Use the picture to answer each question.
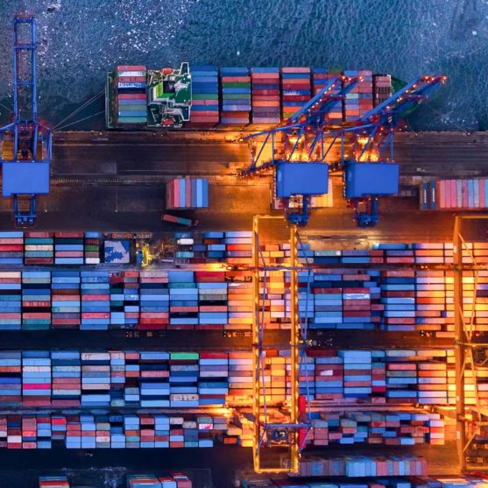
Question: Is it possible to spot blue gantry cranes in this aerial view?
Yes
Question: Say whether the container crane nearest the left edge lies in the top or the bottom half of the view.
top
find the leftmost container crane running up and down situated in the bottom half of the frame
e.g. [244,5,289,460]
[229,217,314,475]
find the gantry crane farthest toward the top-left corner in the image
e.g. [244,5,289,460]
[0,17,52,235]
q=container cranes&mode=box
[300,75,447,235]
[233,75,366,235]
[0,17,52,235]
[421,217,488,475]
[229,217,314,475]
